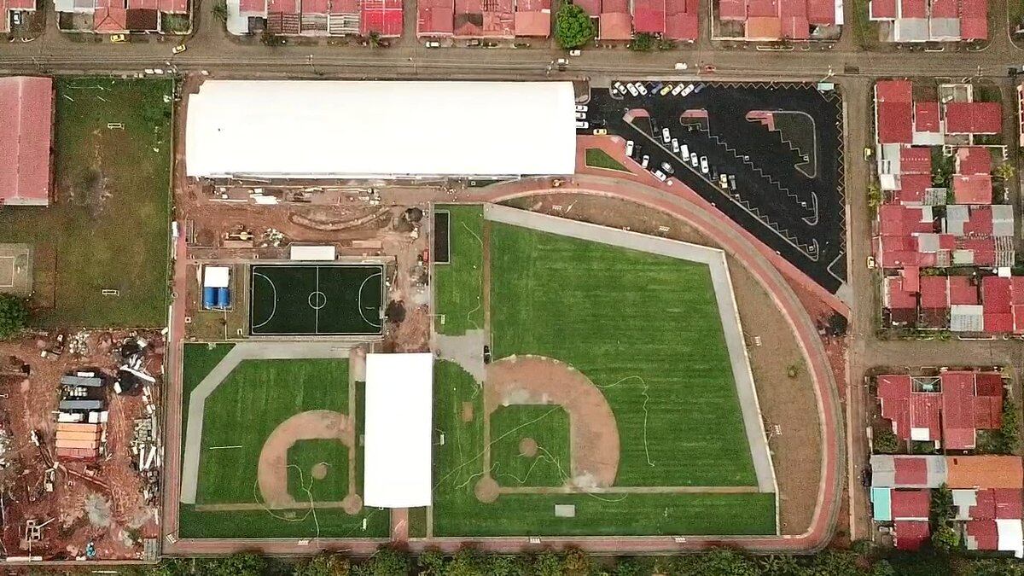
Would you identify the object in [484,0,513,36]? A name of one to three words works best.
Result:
house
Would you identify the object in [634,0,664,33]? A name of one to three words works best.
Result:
house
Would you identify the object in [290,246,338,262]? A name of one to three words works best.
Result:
building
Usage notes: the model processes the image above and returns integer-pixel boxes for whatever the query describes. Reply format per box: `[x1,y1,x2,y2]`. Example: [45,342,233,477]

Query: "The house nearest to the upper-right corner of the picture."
[958,0,988,41]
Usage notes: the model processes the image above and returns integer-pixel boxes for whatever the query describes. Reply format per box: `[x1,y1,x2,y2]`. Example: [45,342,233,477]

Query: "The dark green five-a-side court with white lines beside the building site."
[239,259,389,341]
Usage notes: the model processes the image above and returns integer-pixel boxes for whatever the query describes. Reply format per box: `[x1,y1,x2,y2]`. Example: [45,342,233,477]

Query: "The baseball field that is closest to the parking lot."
[433,202,780,538]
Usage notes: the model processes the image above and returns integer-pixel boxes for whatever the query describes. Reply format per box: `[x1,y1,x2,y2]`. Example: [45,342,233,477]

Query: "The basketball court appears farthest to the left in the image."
[0,244,32,295]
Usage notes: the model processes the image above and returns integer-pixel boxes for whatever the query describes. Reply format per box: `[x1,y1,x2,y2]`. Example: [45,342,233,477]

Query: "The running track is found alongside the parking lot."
[162,175,845,555]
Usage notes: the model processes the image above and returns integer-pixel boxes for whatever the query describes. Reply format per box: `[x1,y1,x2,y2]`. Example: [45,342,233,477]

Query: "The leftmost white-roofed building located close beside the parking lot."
[186,81,576,181]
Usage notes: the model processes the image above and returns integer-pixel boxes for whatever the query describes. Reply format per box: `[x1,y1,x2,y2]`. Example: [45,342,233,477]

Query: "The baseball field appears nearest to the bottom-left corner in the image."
[178,341,390,539]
